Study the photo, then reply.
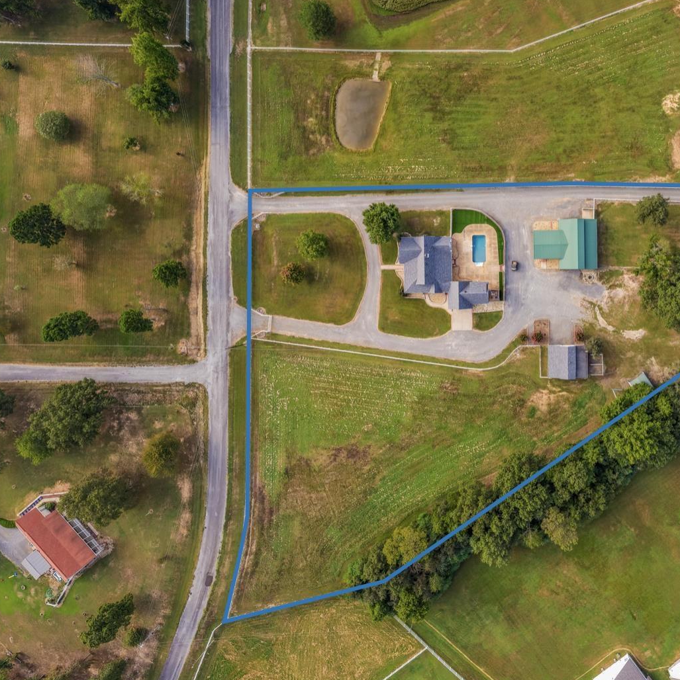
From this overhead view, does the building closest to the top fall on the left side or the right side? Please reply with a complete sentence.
You can find the building closest to the top on the right side of the picture.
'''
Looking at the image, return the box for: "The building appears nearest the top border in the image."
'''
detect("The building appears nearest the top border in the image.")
[533,218,598,270]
